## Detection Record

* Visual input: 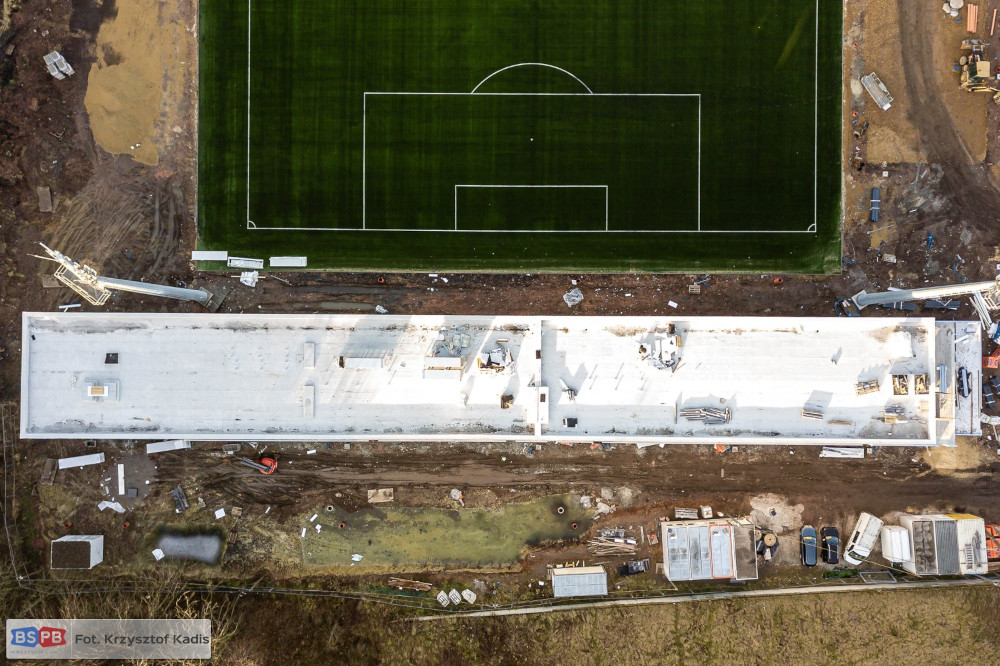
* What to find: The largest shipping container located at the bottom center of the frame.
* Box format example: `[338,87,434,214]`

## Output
[552,565,607,597]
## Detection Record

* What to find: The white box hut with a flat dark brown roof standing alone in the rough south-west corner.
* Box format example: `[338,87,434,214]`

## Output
[52,534,104,570]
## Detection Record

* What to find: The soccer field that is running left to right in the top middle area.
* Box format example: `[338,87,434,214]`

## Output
[195,0,844,274]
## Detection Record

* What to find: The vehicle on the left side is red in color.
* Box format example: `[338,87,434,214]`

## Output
[237,451,279,475]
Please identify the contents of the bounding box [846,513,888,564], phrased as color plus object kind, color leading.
white van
